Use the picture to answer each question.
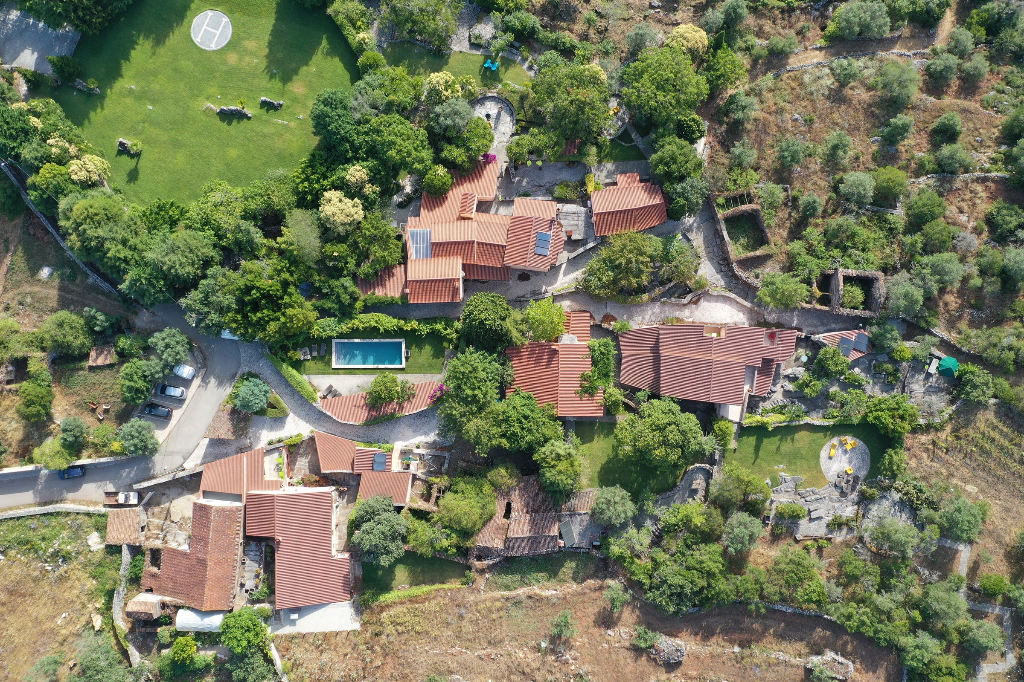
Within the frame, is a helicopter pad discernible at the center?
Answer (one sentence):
No, there's no helicopter pad to be seen at the center.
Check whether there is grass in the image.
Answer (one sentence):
Yes, grass can be seen from above here.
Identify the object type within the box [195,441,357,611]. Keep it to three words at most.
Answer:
house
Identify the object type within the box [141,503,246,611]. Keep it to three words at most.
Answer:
barn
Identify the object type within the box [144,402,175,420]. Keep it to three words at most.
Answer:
car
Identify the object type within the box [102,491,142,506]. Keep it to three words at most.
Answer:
vehicle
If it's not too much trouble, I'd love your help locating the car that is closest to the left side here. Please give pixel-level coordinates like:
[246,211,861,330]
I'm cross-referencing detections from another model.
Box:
[58,466,87,481]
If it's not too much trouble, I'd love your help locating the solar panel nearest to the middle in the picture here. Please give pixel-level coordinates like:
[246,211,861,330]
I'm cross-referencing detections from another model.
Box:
[534,232,551,256]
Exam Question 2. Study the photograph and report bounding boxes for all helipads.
[190,8,232,50]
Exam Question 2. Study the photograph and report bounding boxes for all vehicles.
[168,363,199,379]
[58,466,87,481]
[102,491,142,506]
[156,383,189,400]
[144,402,175,420]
